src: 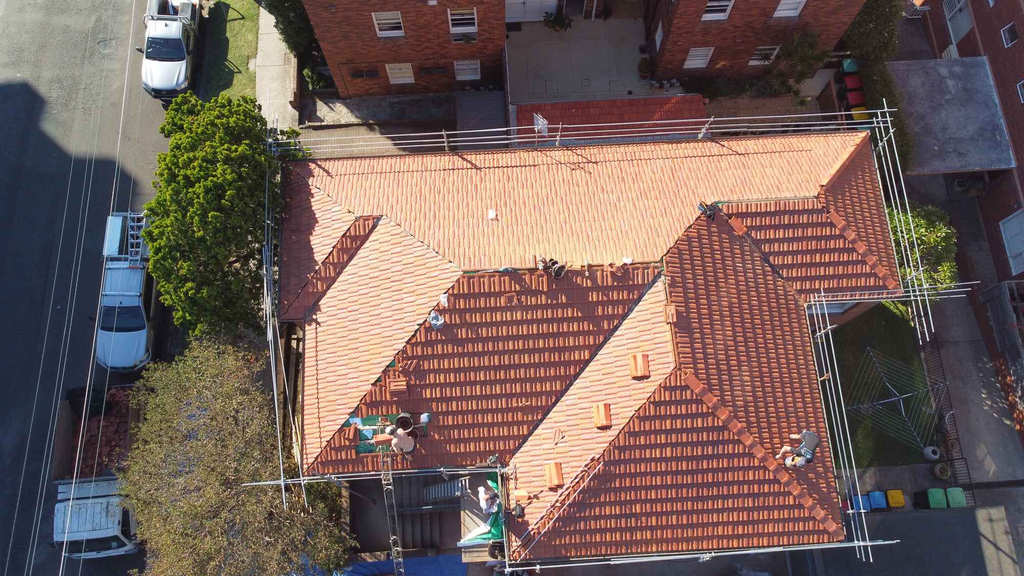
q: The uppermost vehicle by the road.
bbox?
[131,0,202,110]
